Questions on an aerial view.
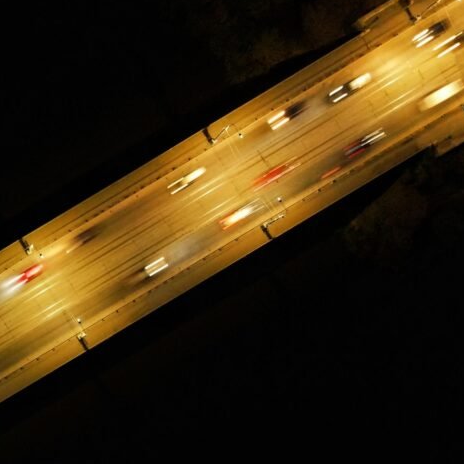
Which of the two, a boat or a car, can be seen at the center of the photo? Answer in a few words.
car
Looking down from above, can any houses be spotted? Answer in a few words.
No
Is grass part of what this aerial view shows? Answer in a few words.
No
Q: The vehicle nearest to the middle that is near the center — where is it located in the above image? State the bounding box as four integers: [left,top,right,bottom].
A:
[220,209,247,230]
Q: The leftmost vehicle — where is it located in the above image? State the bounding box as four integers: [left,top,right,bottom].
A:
[17,264,44,285]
